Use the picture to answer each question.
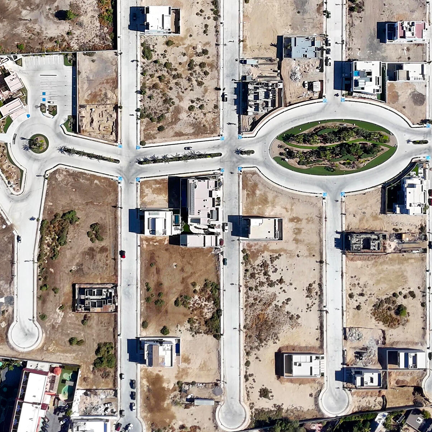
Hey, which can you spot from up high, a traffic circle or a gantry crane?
traffic circle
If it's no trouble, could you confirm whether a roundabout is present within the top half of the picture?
Yes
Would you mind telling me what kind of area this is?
residential area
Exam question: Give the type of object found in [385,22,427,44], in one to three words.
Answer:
house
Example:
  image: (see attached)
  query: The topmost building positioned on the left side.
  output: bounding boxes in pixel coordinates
[142,5,180,36]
